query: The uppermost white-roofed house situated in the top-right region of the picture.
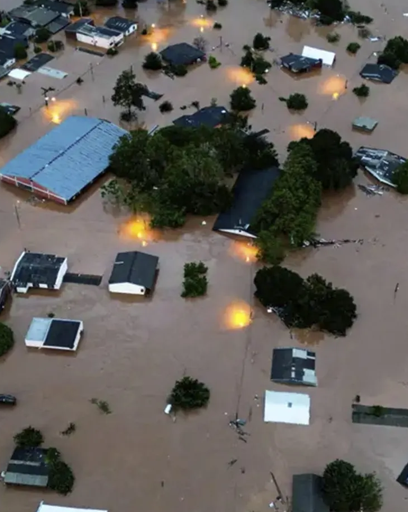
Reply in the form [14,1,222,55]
[301,45,335,71]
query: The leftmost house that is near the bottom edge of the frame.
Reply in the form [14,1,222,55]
[4,446,49,488]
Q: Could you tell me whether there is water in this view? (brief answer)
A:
Yes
